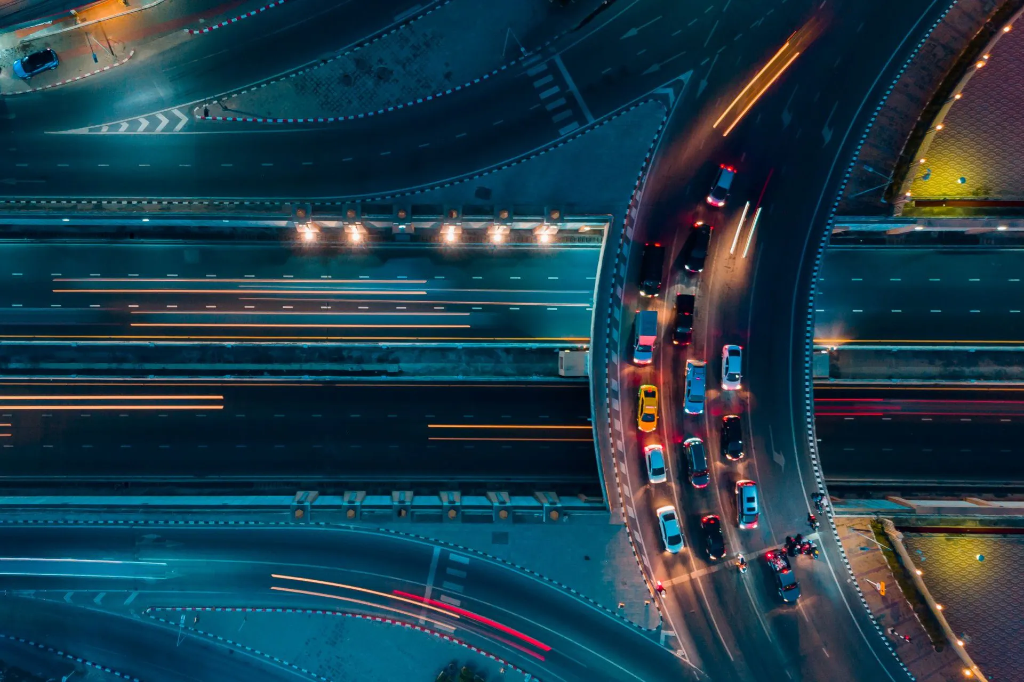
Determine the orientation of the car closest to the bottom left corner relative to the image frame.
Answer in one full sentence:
The car closest to the bottom left corner is laid out horizontally.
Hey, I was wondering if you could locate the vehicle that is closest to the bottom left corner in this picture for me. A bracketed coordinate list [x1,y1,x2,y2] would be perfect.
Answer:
[101,557,156,583]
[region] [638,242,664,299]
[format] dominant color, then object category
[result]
black truck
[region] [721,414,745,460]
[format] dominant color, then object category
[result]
black car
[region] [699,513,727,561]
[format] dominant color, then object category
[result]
black car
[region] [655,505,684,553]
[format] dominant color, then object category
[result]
blue car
